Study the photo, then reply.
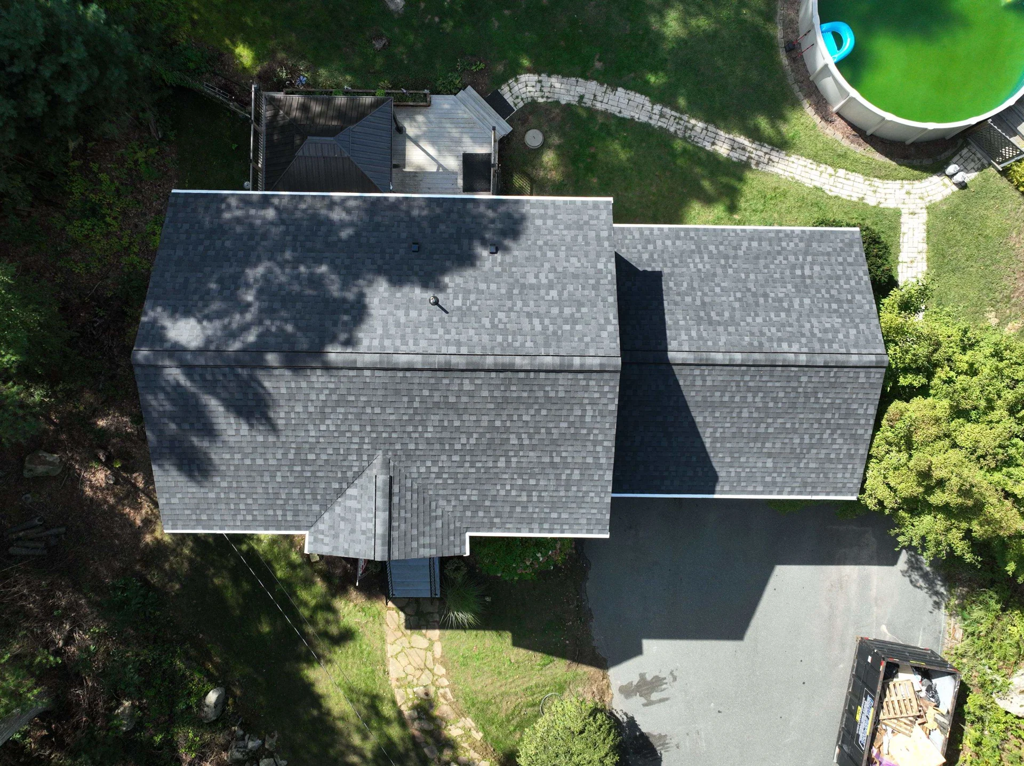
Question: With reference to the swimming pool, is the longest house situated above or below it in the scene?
below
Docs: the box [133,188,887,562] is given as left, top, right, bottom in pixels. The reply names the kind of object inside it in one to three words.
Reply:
house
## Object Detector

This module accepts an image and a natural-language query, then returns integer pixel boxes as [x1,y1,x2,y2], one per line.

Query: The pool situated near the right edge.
[797,0,1024,144]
